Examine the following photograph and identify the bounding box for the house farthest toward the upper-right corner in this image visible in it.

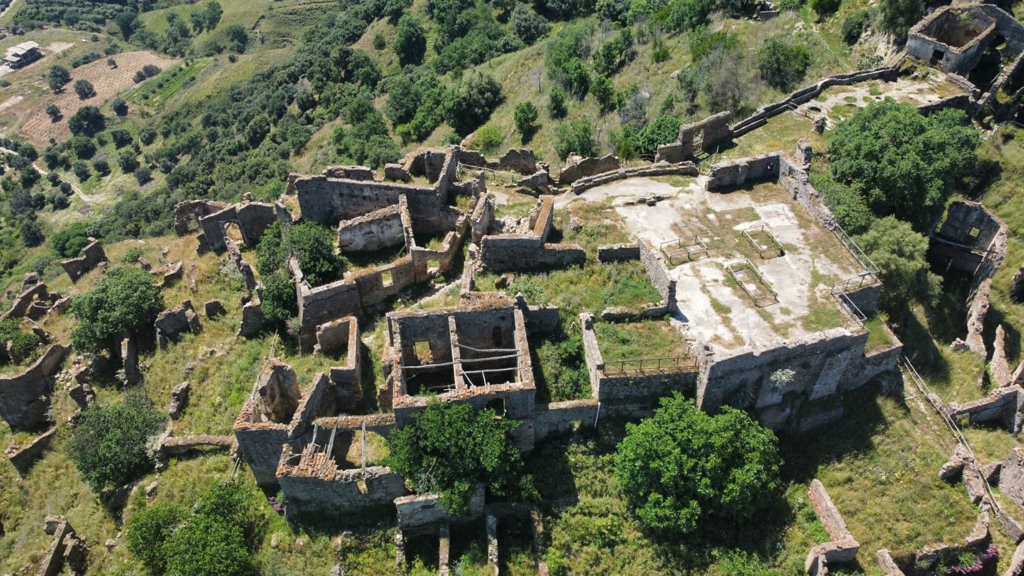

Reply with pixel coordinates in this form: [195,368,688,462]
[901,5,999,83]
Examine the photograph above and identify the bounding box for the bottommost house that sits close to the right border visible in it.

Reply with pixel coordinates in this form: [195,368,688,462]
[934,381,1024,444]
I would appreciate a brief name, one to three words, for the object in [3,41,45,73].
house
